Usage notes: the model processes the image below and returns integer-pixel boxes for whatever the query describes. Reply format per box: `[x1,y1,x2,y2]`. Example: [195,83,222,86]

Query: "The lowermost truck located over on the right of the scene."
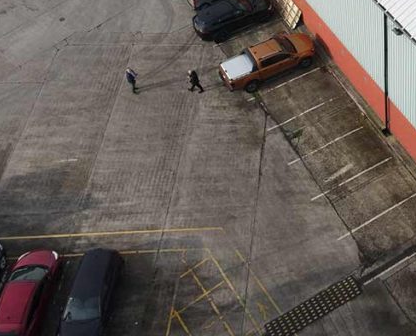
[219,30,316,95]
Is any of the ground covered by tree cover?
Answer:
No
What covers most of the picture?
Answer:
paved ground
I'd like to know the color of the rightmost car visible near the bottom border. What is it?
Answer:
black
